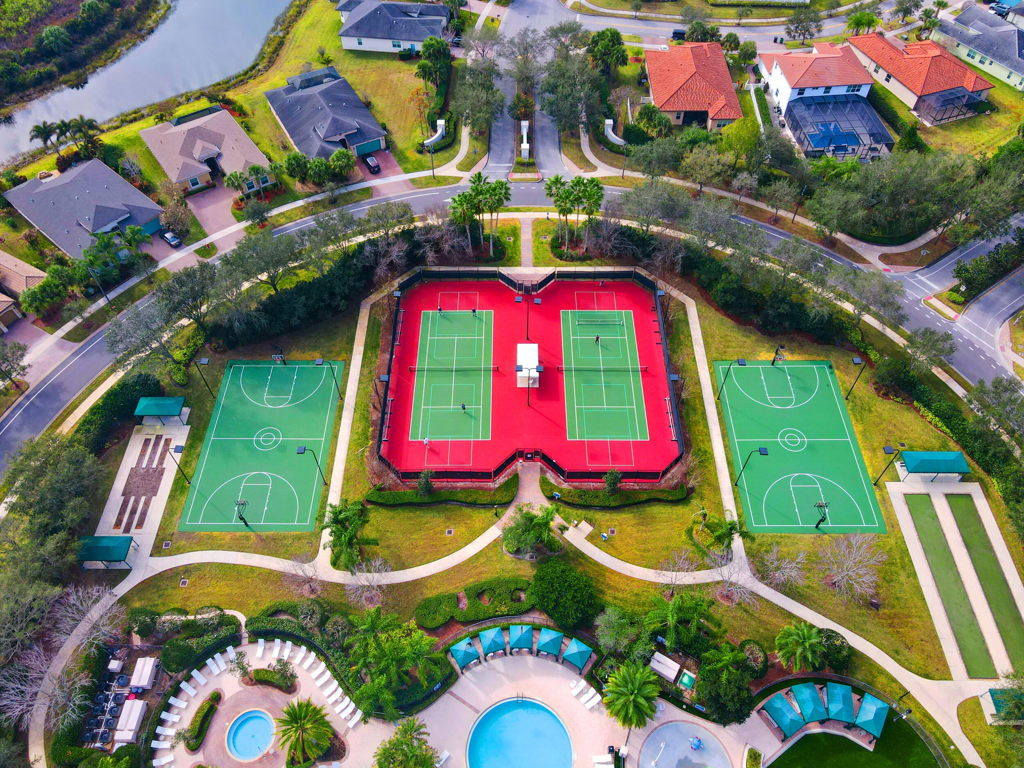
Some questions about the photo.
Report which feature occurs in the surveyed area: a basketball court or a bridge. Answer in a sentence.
I can see a basketball court in this picture.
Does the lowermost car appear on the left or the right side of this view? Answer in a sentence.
You can find the lowermost car on the left side of the picture.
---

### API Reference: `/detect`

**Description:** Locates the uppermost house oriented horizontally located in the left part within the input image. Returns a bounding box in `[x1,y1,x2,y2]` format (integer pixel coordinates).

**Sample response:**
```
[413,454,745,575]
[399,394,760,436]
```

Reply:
[336,0,454,53]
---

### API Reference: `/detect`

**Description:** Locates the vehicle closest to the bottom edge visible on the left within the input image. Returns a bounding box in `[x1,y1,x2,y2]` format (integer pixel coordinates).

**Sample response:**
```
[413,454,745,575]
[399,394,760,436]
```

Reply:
[158,226,182,246]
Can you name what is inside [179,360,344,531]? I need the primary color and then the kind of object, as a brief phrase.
green basketball court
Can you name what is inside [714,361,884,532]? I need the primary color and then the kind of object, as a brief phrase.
green basketball court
